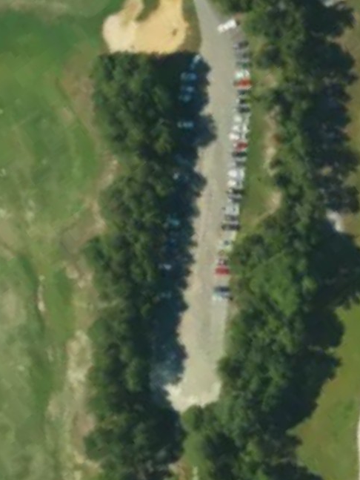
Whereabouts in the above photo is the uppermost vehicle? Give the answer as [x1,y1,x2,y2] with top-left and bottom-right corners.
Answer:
[218,17,237,31]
